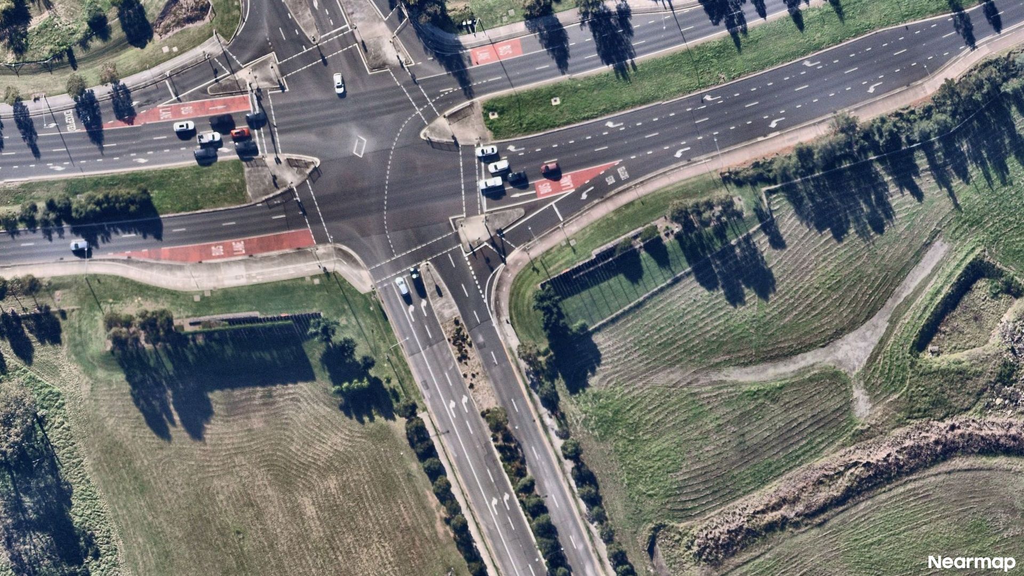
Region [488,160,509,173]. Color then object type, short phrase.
white vehicle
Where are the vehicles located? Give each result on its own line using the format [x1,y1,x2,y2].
[193,149,217,159]
[230,128,250,138]
[245,113,267,123]
[540,164,560,174]
[235,142,257,152]
[197,133,220,143]
[488,160,509,173]
[173,122,194,132]
[397,277,410,297]
[70,241,89,250]
[506,171,527,182]
[475,146,497,157]
[333,73,344,95]
[409,265,423,287]
[479,178,502,190]
[210,116,232,126]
